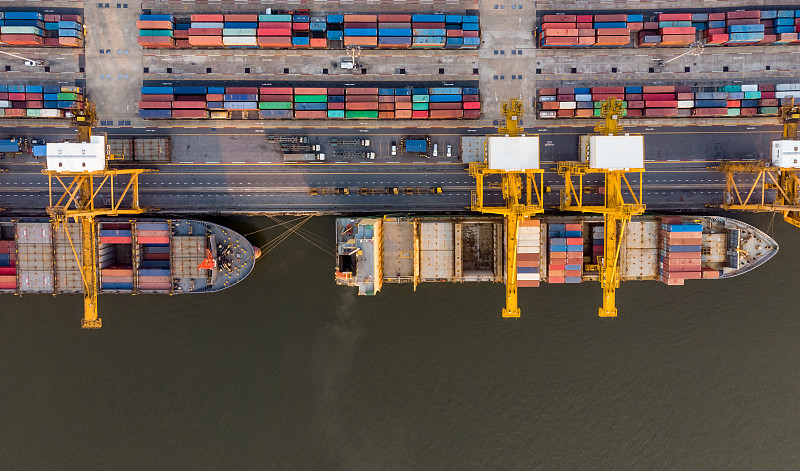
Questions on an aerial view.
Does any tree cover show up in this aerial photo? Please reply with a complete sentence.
No, the picture contains no tree cover.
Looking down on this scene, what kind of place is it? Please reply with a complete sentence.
This looks like a port.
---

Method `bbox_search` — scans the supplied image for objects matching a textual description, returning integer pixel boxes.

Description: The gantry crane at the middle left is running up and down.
[48,99,160,330]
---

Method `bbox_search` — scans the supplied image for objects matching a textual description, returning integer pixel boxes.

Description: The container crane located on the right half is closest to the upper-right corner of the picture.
[702,95,800,231]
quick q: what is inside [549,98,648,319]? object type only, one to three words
container crane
